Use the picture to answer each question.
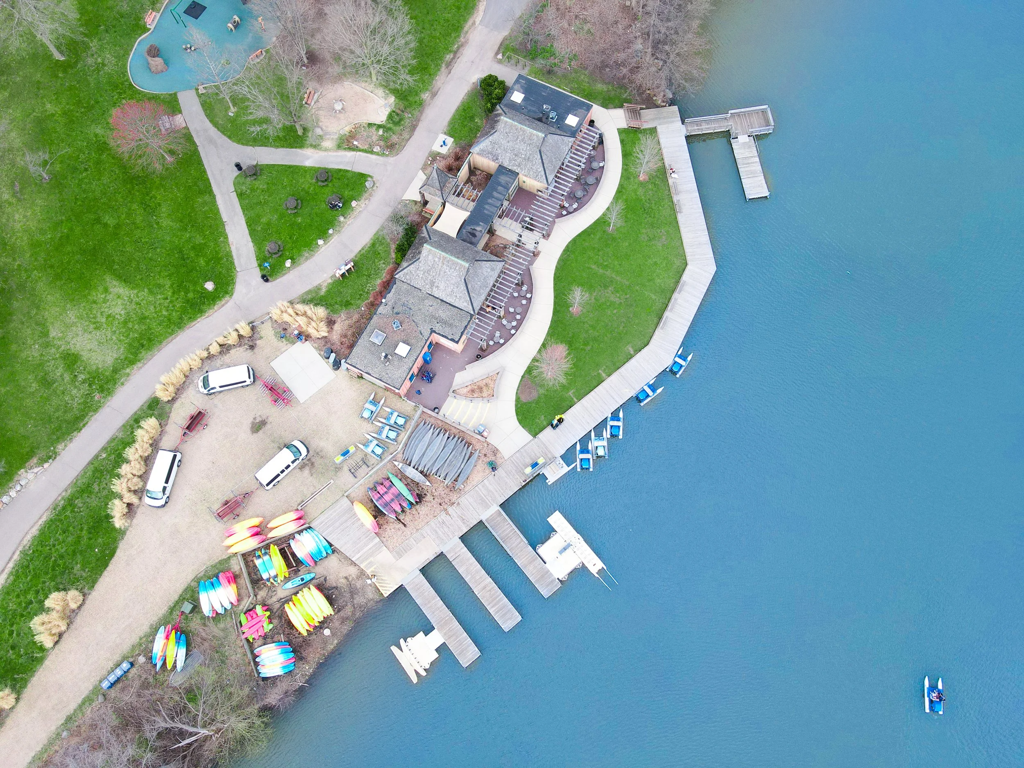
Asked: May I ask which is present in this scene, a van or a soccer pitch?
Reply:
van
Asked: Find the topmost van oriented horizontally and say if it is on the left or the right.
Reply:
left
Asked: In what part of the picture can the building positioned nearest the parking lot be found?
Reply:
center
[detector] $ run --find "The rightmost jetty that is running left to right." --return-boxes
[680,105,777,140]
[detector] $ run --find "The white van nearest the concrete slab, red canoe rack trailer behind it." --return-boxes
[199,365,259,397]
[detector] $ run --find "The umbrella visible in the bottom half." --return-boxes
[484,456,498,470]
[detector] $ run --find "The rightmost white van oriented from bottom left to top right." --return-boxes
[252,440,314,494]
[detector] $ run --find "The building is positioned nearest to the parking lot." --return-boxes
[346,224,505,397]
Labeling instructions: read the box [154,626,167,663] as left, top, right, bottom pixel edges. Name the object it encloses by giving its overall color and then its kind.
white boat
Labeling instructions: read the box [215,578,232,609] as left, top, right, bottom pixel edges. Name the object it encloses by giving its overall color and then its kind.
white boat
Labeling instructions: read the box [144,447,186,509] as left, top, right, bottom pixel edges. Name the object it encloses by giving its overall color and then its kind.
white van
